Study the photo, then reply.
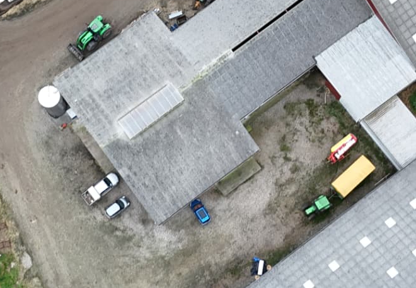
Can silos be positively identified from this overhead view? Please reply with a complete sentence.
Yes, a silo is visible in the scene.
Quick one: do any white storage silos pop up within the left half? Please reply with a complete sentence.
Yes, I can see a white storage silo within the left half.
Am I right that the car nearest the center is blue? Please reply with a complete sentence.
Yes, blue is the color of the car nearest the center.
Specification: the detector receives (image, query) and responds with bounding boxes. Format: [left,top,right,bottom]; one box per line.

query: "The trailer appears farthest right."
[326,155,375,201]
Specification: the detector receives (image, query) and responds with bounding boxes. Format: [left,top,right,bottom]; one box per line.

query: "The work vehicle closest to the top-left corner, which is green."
[67,17,111,60]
